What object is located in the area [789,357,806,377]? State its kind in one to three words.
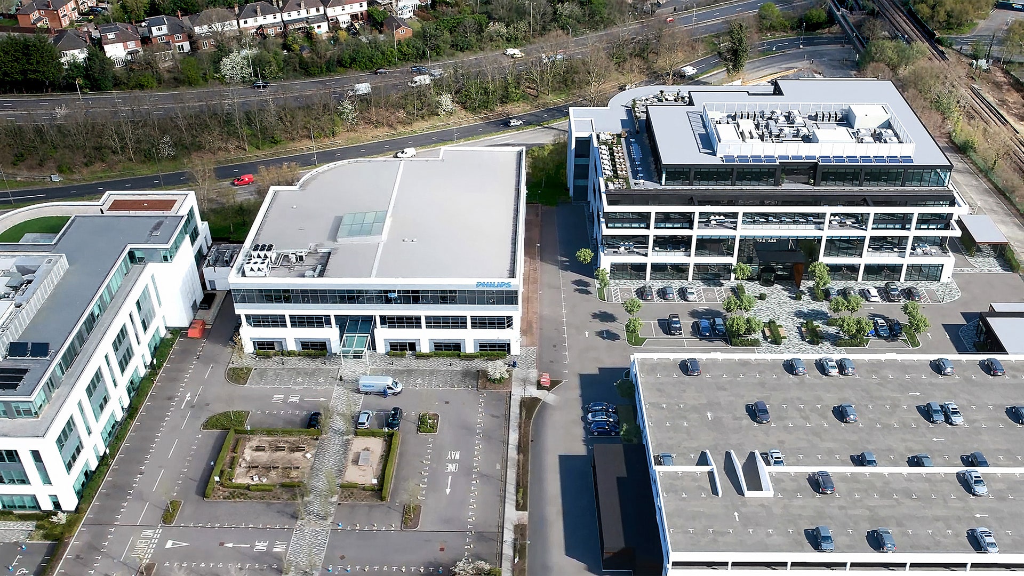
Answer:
car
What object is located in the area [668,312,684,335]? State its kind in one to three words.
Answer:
vehicle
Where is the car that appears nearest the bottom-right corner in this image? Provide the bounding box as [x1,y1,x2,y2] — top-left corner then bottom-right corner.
[974,524,1000,554]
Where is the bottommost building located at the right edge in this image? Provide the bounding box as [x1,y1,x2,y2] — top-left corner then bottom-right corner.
[973,311,1024,355]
